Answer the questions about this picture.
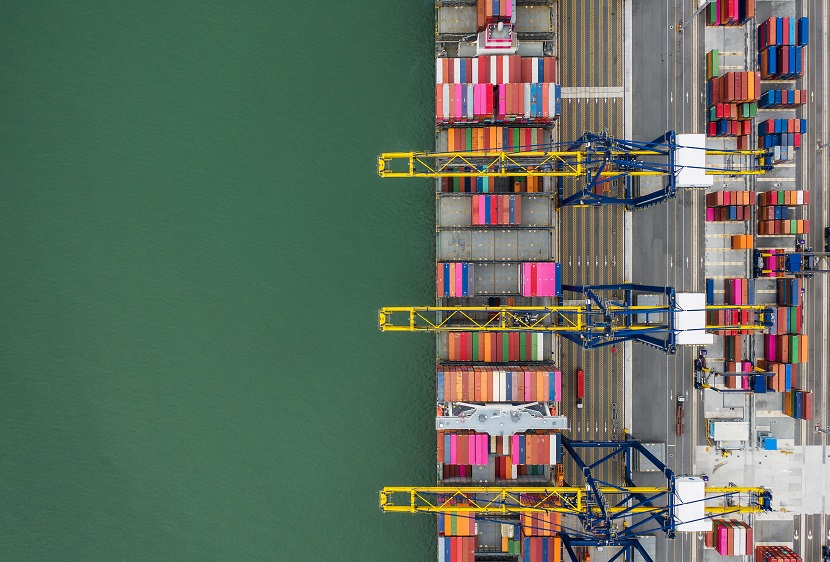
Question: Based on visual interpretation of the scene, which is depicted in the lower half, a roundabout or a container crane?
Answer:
container crane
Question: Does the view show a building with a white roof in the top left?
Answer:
No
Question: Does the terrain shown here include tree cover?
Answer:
No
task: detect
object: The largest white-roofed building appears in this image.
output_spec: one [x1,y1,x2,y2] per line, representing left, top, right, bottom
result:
[700,414,749,448]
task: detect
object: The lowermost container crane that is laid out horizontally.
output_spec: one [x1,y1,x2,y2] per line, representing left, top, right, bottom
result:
[561,525,654,562]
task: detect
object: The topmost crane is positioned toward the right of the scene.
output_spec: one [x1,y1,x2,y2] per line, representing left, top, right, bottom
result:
[375,127,779,213]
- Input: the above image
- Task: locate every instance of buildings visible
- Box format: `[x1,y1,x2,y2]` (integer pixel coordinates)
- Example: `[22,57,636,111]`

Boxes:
[760,436,777,449]
[700,414,749,448]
